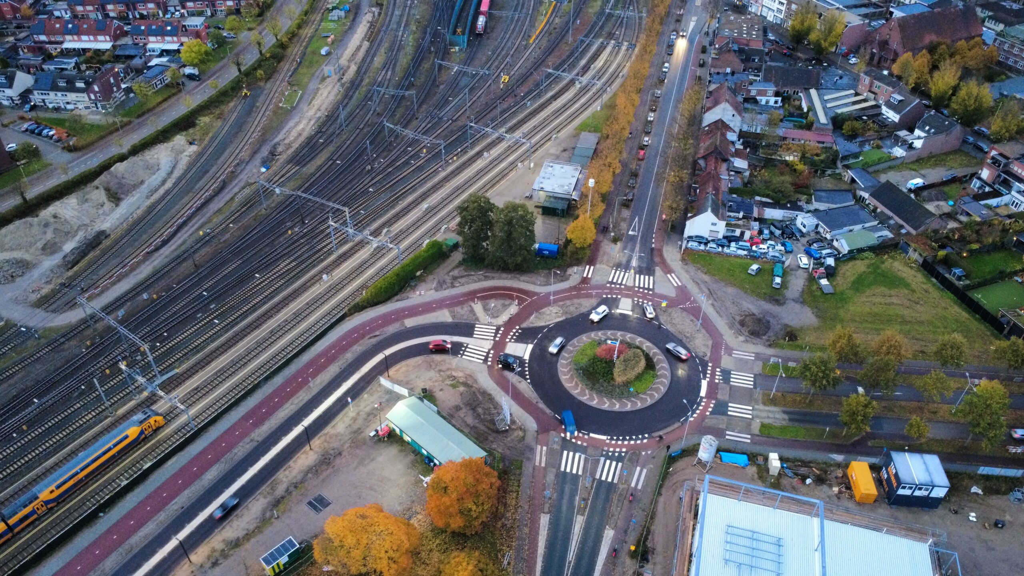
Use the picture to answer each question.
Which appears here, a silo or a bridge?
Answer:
silo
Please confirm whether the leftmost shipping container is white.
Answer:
No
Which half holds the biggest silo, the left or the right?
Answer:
right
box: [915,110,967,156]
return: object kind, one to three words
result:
house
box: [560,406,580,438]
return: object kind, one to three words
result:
vehicle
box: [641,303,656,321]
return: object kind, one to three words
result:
car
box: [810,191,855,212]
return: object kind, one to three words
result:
building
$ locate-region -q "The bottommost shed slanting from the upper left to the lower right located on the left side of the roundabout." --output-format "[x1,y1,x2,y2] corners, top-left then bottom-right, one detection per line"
[384,395,490,480]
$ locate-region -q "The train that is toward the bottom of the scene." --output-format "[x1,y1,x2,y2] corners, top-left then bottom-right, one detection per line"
[0,410,163,540]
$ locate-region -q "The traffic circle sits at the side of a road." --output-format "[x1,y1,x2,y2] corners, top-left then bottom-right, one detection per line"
[498,297,708,440]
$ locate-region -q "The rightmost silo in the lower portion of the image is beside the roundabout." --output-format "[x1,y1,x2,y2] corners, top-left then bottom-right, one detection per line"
[694,429,723,472]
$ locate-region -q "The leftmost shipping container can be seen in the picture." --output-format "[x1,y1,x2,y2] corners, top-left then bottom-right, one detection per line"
[843,462,878,504]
